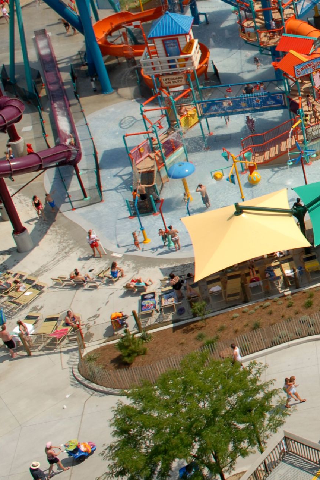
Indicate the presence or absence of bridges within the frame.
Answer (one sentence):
Yes, the photo shows a bridge.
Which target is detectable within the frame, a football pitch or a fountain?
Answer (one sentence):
It is a fountain that can be seen here.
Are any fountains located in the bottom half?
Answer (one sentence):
No, no fountain appears in the bottom half.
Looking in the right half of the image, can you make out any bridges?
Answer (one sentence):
Yes, a bridge appears in the right half of the image.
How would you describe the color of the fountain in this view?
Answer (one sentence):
From above, the fountain appears blue.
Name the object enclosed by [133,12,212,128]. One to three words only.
shed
